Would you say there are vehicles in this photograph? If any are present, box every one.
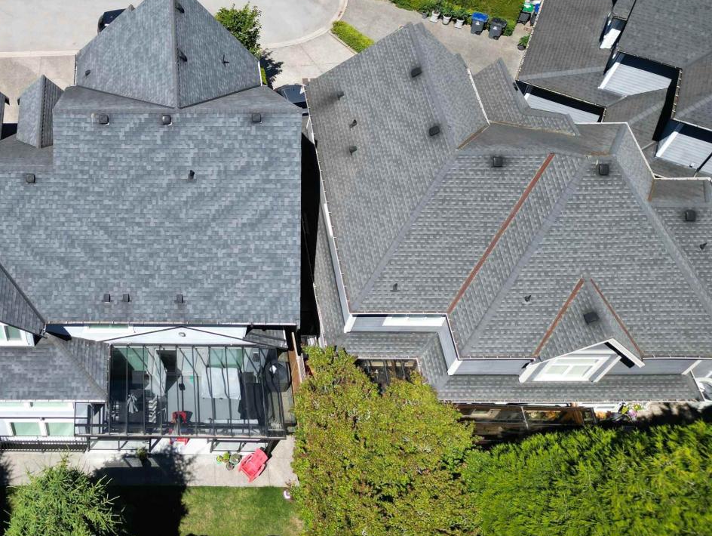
[97,0,138,32]
[272,78,308,132]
